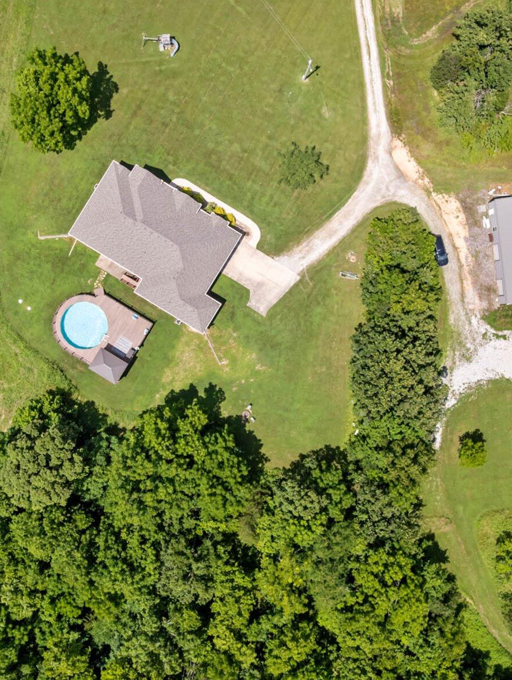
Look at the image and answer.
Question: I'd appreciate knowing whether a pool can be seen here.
Yes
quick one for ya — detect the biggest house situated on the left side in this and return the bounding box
[68,160,242,334]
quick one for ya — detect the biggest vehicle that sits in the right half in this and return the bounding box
[432,234,451,266]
